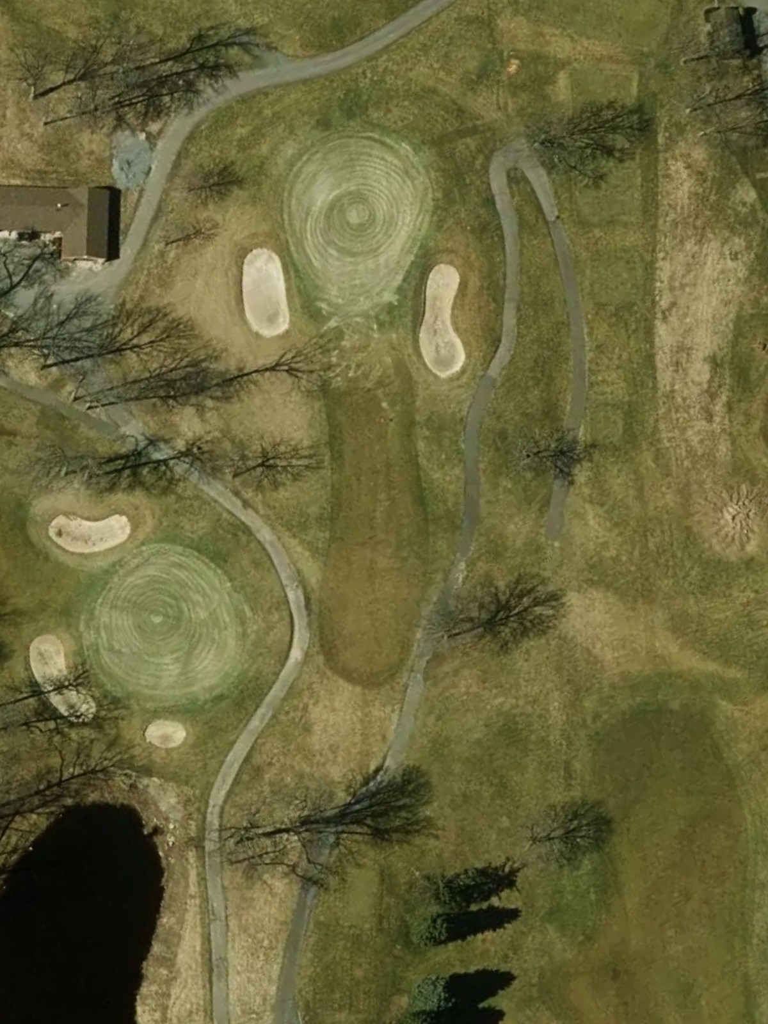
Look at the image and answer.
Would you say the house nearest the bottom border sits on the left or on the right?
left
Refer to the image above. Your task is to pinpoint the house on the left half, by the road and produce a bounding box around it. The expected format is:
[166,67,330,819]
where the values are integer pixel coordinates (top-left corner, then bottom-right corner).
[0,184,109,259]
